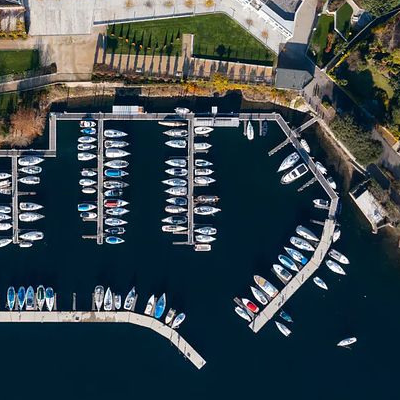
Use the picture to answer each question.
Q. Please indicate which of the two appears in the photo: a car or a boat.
boat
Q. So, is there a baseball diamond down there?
No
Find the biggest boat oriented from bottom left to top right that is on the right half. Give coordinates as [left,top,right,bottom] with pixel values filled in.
[282,161,310,183]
